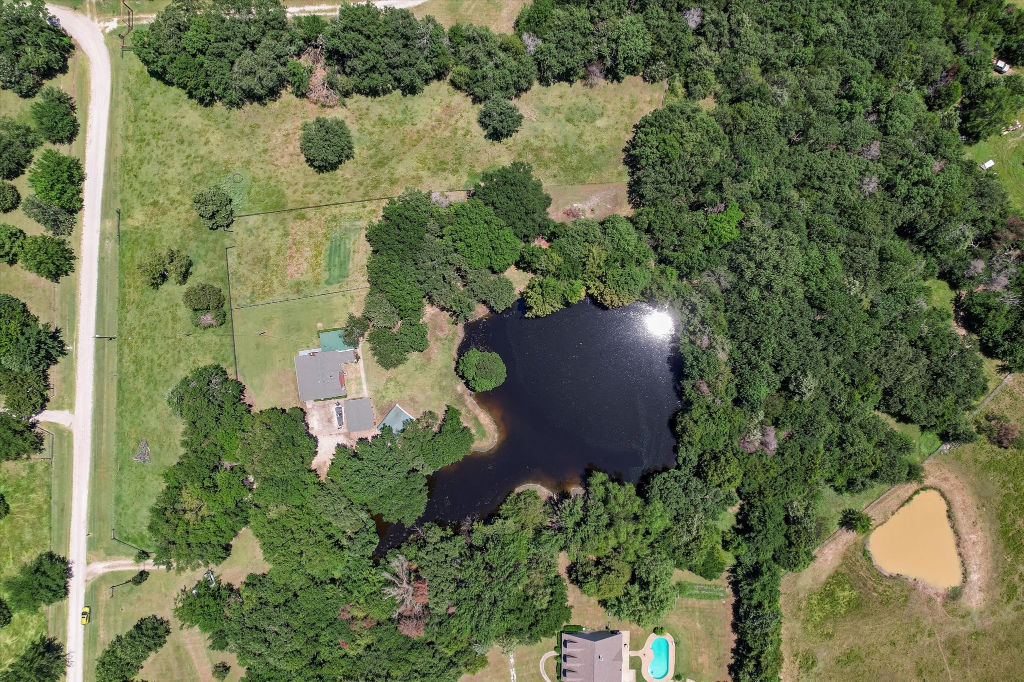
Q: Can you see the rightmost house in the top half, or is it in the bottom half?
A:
bottom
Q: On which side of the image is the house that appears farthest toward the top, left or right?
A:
left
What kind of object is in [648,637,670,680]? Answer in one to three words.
swimming pool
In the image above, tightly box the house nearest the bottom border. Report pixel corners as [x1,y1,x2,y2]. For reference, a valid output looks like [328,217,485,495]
[561,625,624,682]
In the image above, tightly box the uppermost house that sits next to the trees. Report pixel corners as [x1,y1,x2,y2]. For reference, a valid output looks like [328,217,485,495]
[294,331,357,402]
